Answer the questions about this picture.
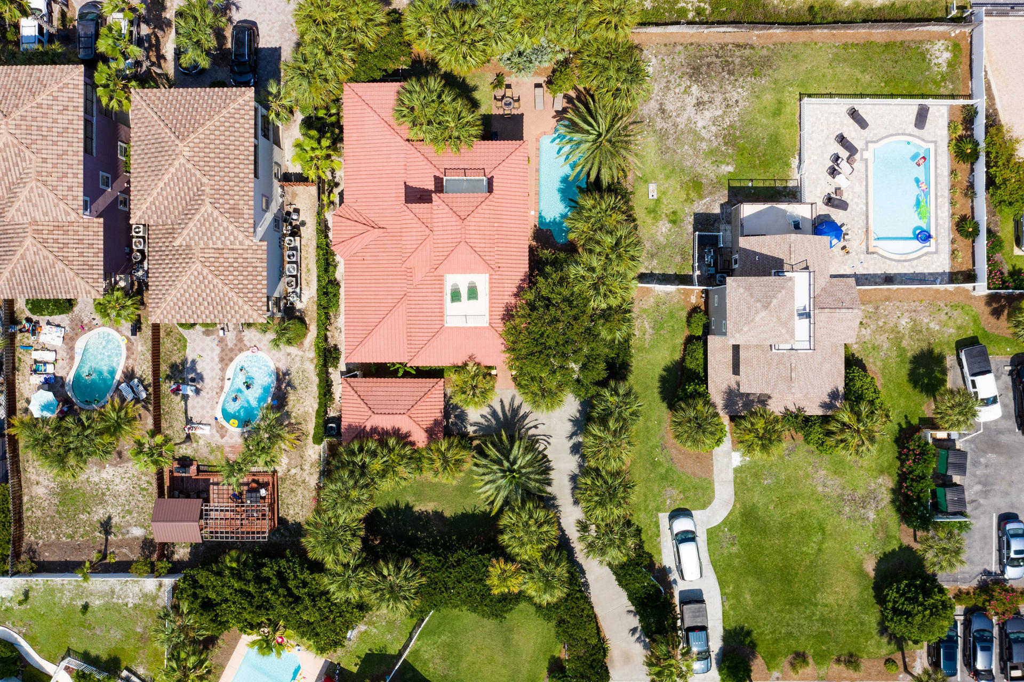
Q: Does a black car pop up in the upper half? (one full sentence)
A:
Yes, you'll find a black car in the upper half.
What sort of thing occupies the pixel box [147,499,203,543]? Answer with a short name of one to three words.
building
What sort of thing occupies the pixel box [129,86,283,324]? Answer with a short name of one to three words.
house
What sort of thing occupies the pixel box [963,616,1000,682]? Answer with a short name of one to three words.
car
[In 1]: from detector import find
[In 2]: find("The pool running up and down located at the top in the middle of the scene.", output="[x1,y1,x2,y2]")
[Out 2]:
[539,121,588,244]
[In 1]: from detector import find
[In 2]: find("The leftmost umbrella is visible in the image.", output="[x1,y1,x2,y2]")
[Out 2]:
[32,389,61,418]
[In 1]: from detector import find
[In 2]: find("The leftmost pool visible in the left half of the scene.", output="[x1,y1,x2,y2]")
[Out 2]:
[66,328,125,409]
